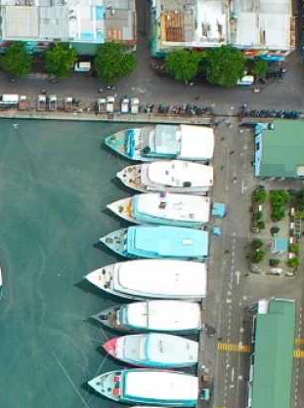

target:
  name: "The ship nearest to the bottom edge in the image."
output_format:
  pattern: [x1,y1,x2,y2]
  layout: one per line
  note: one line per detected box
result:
[89,367,203,405]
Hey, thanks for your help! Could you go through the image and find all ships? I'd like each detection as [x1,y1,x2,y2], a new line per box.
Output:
[106,121,219,160]
[104,330,203,366]
[87,258,213,300]
[89,367,203,405]
[108,190,213,228]
[93,299,206,334]
[101,225,212,259]
[118,158,218,194]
